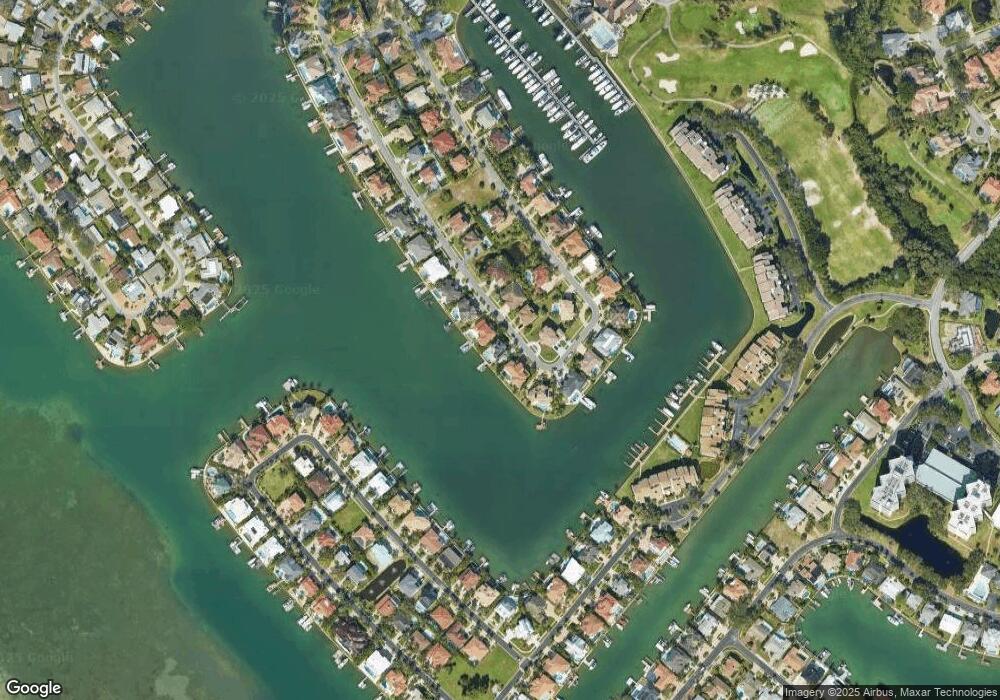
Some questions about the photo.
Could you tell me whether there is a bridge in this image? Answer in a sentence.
No, the frame has no bridge in it.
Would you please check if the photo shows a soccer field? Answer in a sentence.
No, this view has no soccer field in it.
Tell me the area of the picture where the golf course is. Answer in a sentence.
The golf course is in the top right part of the image.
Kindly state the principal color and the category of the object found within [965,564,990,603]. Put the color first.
white swimming pool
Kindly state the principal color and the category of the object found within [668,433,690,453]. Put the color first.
white swimming pool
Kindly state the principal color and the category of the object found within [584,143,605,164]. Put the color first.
white boat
